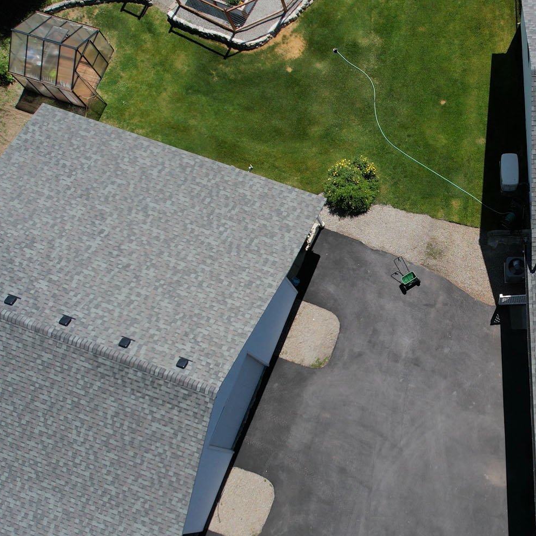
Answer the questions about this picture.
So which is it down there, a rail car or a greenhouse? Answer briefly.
greenhouse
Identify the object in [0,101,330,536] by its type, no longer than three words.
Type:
building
